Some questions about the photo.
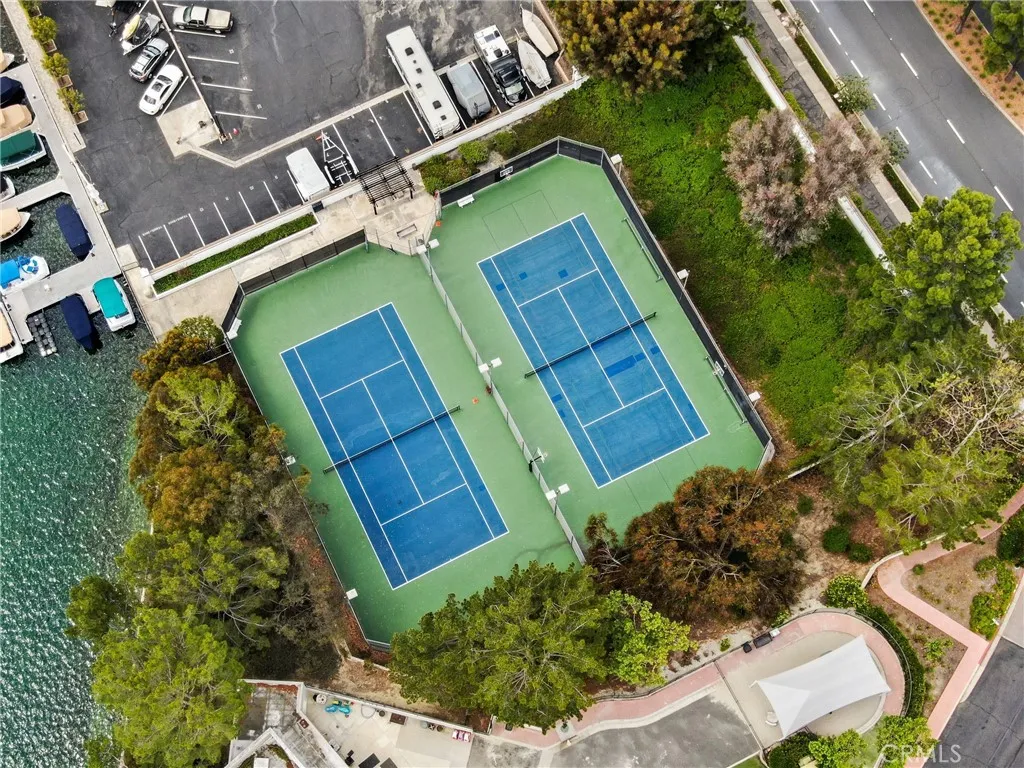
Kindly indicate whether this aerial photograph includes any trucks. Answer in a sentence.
Yes, there is a truck in the image.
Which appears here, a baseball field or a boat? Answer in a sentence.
This aerial view contains a boat.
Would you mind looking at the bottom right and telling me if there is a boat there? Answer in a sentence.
No, no boat is visible at the bottom right.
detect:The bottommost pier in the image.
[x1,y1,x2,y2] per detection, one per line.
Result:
[13,259,122,344]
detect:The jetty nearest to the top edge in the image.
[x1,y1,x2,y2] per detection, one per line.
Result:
[0,61,28,85]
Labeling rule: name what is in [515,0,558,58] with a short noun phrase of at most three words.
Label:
boat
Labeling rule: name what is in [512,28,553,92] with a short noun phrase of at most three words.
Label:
boat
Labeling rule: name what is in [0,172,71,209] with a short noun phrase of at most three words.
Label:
pier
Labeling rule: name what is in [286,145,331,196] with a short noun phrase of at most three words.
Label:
trailer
